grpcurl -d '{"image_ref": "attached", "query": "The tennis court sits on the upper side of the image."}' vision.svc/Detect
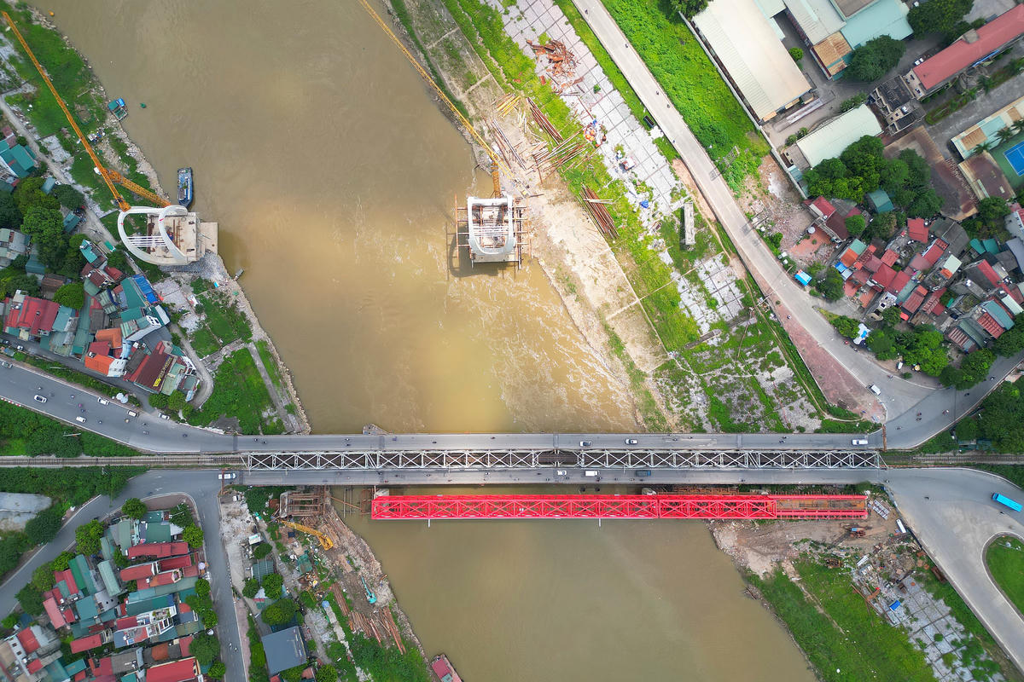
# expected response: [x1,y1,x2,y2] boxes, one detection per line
[988,130,1024,199]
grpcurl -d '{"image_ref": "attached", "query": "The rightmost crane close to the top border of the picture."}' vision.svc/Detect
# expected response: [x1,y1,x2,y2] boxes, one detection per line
[356,0,528,204]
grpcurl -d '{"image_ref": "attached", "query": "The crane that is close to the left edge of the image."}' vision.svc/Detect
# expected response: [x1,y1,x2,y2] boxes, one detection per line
[0,5,176,219]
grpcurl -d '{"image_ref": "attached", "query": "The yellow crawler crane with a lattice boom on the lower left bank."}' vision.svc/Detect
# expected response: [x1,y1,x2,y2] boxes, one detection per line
[280,514,338,556]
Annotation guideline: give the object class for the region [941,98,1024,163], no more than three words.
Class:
shed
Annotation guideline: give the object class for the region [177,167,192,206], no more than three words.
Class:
boat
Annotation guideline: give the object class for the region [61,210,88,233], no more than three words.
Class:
house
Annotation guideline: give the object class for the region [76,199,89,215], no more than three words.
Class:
vehicle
